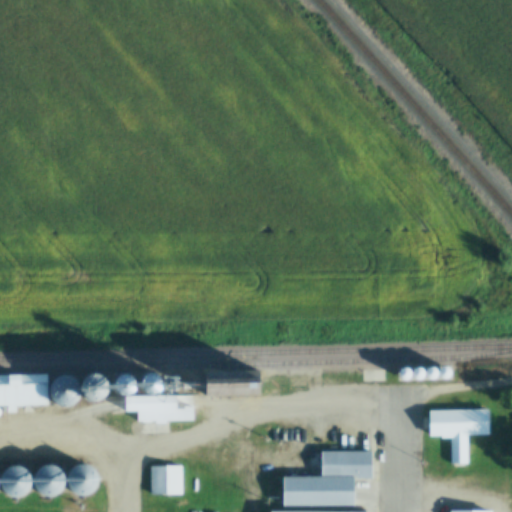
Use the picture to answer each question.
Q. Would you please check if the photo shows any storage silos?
Yes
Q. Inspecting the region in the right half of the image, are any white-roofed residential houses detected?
Yes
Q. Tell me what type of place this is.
farmland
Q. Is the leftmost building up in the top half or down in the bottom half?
bottom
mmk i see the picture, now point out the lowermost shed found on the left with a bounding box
[151,465,184,496]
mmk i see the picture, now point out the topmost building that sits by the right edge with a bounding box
[430,410,490,468]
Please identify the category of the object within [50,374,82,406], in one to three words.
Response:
silo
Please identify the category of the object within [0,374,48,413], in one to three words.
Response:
building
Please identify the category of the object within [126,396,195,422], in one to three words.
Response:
shed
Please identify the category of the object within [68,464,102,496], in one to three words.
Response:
silo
